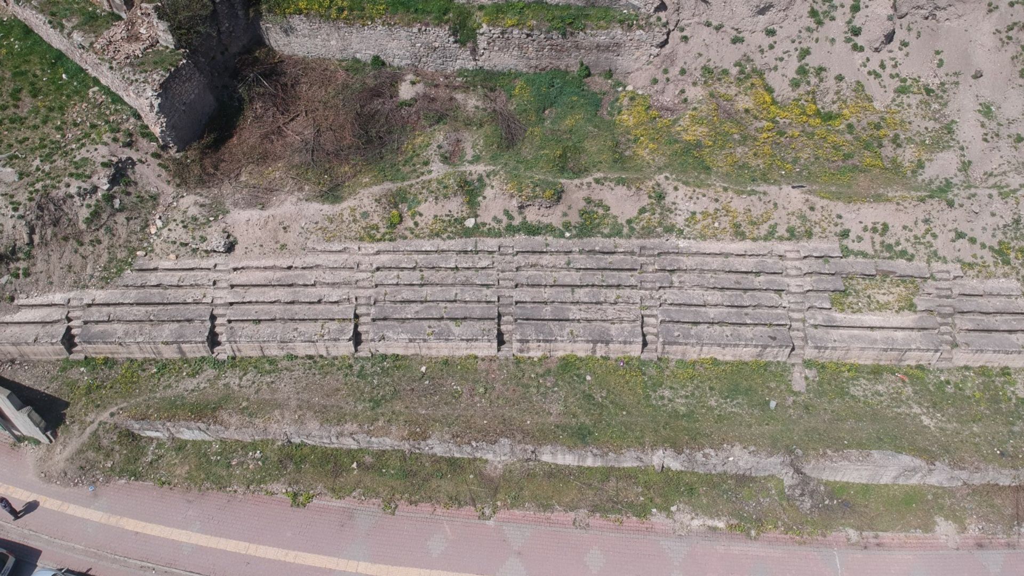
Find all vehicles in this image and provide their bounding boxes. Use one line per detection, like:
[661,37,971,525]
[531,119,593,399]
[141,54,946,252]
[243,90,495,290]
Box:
[29,563,77,576]
[0,545,17,576]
